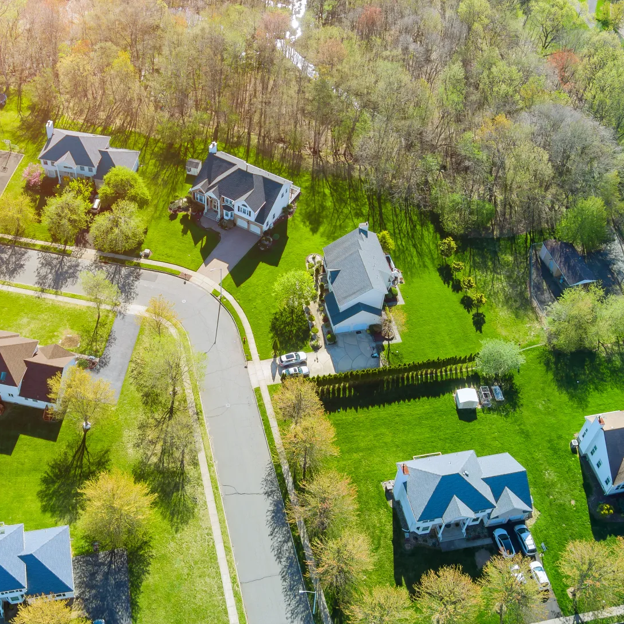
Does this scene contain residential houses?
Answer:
Yes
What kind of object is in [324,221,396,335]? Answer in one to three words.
house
